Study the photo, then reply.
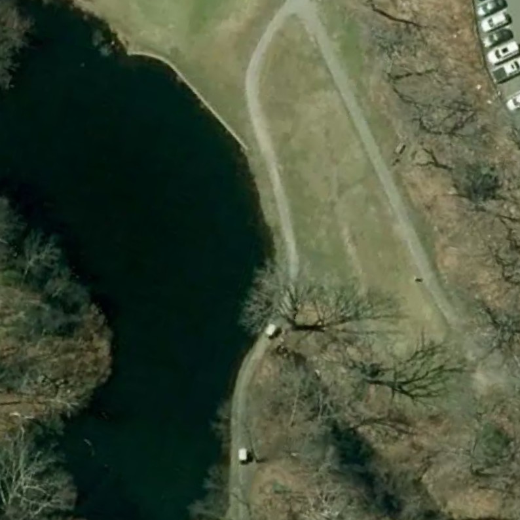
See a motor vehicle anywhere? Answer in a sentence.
Yes, a motor vehicle appears in the view.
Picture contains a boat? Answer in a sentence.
No, the frame has no boat in it.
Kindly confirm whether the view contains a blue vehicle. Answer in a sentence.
No, this view has no blue vehicle in it.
